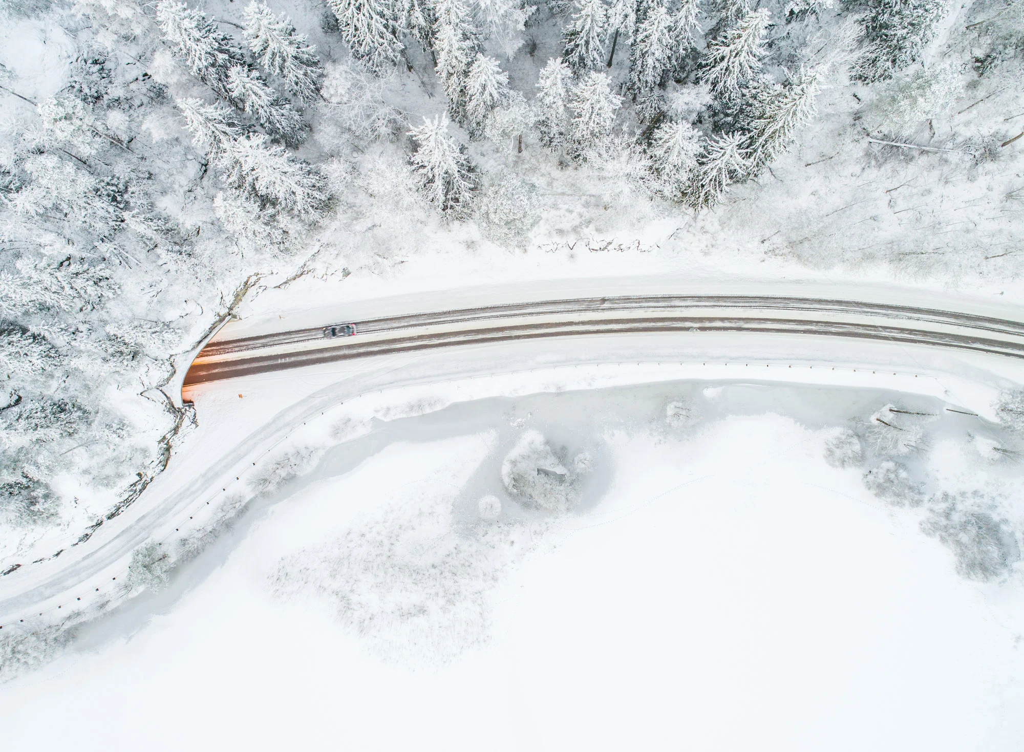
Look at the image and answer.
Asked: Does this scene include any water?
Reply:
Yes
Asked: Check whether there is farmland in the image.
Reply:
No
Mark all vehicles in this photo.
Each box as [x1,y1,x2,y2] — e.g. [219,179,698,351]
[323,323,358,340]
